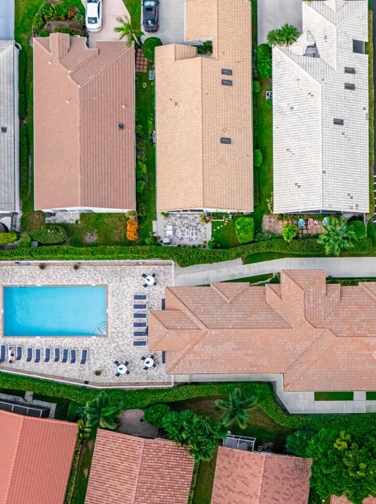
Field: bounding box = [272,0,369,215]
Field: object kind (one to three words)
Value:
house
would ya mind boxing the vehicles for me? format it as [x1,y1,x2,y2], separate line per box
[142,0,160,33]
[84,0,103,33]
